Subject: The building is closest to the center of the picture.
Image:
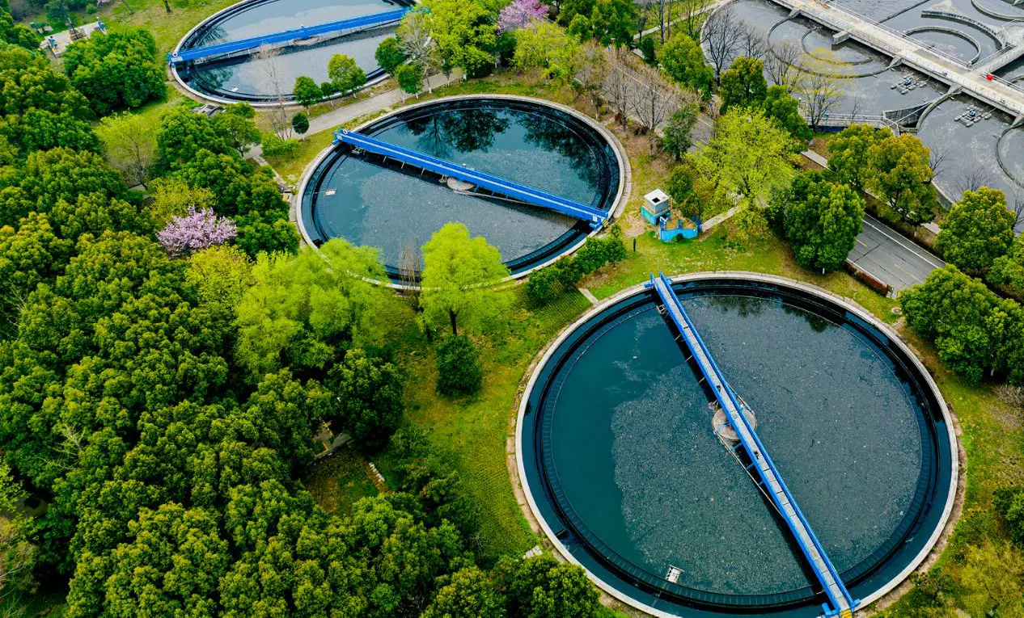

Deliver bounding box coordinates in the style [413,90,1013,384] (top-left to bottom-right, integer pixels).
[640,189,670,226]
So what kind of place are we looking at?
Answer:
industrial area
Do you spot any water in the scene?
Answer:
Yes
